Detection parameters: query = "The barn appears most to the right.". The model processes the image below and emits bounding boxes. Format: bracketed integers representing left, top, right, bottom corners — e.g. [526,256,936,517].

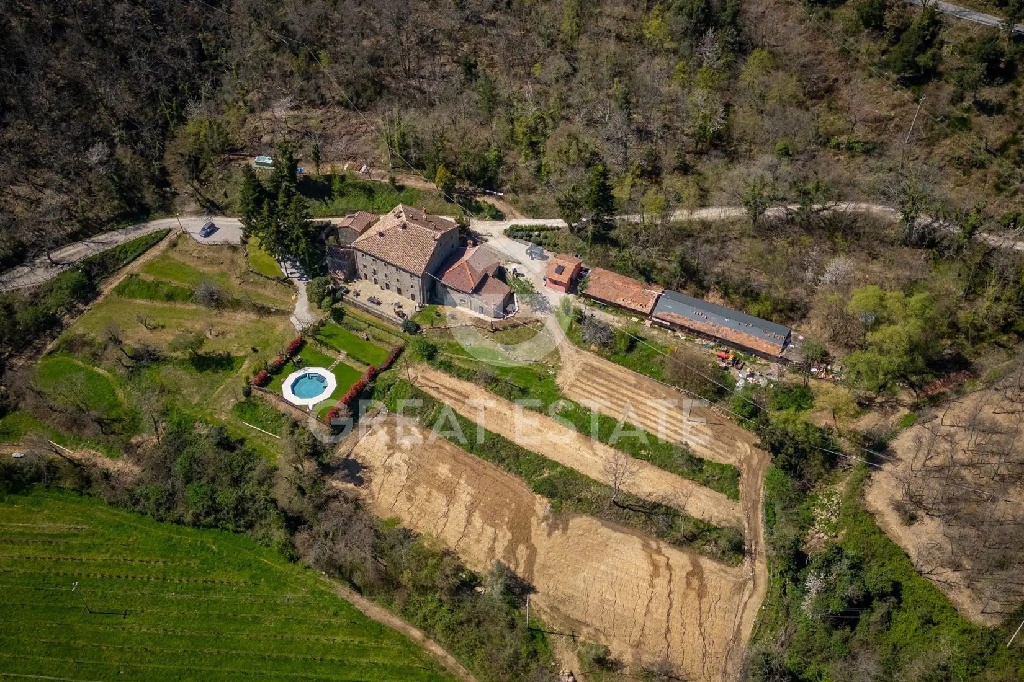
[650,289,791,367]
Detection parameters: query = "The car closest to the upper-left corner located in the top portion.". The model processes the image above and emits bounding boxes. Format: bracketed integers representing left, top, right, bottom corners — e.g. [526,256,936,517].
[200,222,216,235]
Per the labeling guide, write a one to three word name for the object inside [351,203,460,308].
house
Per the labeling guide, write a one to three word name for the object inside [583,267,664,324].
barn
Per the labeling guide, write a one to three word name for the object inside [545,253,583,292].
building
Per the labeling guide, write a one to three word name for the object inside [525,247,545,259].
vehicle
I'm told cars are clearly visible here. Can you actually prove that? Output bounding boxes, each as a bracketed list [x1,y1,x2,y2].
[200,222,216,235]
[525,247,545,259]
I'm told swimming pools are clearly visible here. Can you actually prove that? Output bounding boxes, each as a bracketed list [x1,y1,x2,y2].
[281,367,337,405]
